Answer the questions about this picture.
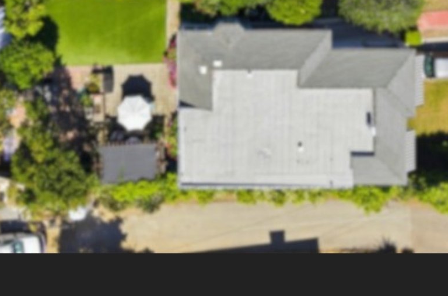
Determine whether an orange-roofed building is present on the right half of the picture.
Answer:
No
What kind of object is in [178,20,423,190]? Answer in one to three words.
house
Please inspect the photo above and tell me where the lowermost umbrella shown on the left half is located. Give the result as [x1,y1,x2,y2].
[118,96,152,129]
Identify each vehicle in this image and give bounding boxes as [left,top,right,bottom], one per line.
[416,52,448,84]
[0,216,42,254]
